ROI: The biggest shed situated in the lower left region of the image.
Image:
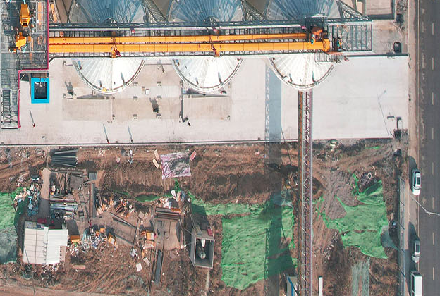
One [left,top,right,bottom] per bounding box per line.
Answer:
[22,221,67,263]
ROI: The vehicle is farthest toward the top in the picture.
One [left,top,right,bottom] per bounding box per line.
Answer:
[412,168,425,198]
